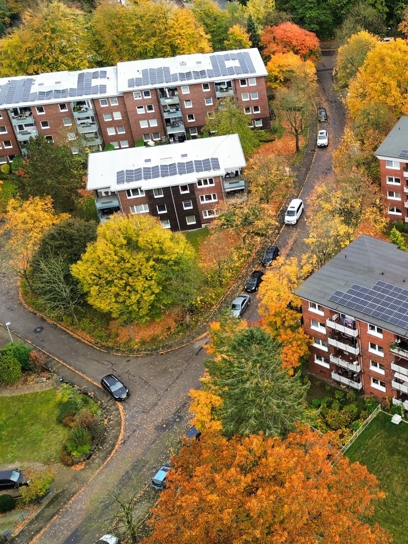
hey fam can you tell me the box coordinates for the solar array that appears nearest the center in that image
[117,159,221,185]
